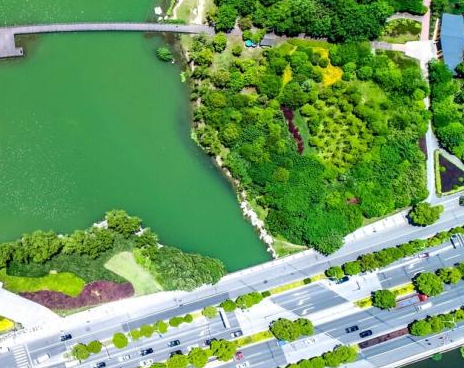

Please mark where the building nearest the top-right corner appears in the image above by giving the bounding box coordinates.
[431,14,464,76]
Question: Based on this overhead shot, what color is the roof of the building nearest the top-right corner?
blue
